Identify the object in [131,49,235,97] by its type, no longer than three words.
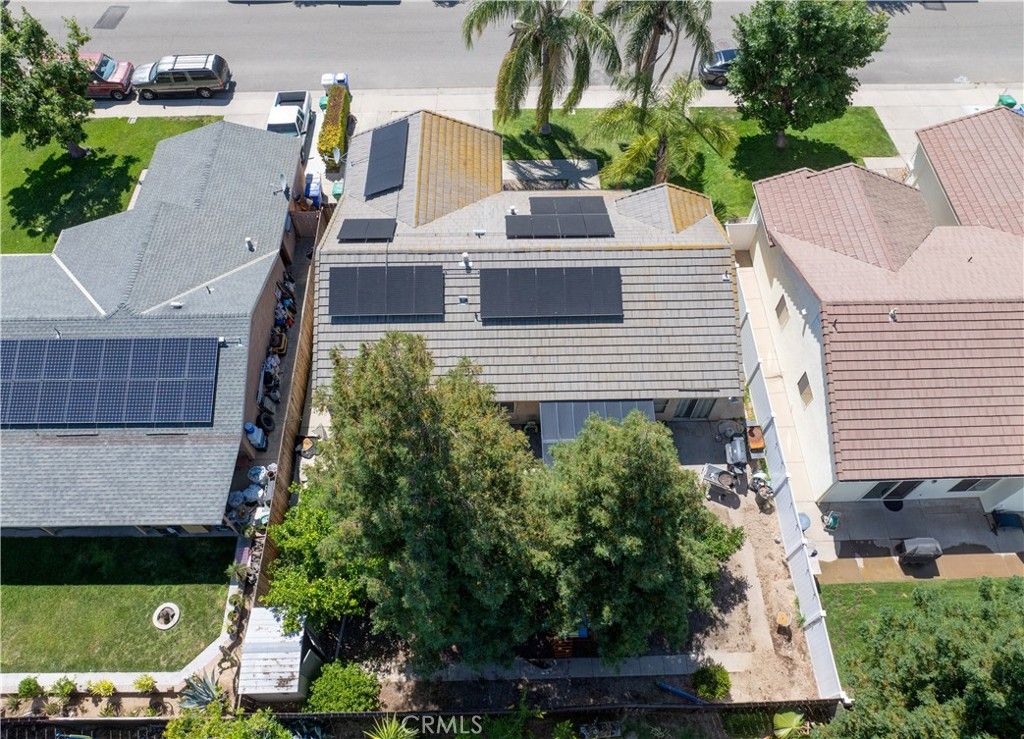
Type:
car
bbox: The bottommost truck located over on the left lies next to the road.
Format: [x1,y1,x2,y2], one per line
[264,92,313,166]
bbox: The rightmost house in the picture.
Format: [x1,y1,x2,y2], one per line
[743,103,1024,510]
